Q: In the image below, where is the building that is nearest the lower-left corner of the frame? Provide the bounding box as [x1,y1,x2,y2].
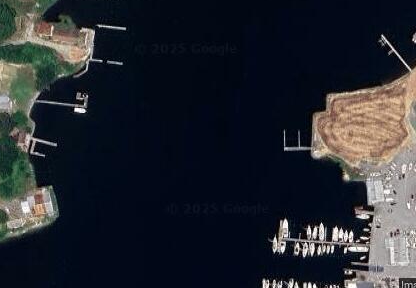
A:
[21,189,54,215]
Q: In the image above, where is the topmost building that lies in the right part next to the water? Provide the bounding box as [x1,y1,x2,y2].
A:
[368,180,386,202]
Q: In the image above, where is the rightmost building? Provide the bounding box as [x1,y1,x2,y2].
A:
[386,237,410,265]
